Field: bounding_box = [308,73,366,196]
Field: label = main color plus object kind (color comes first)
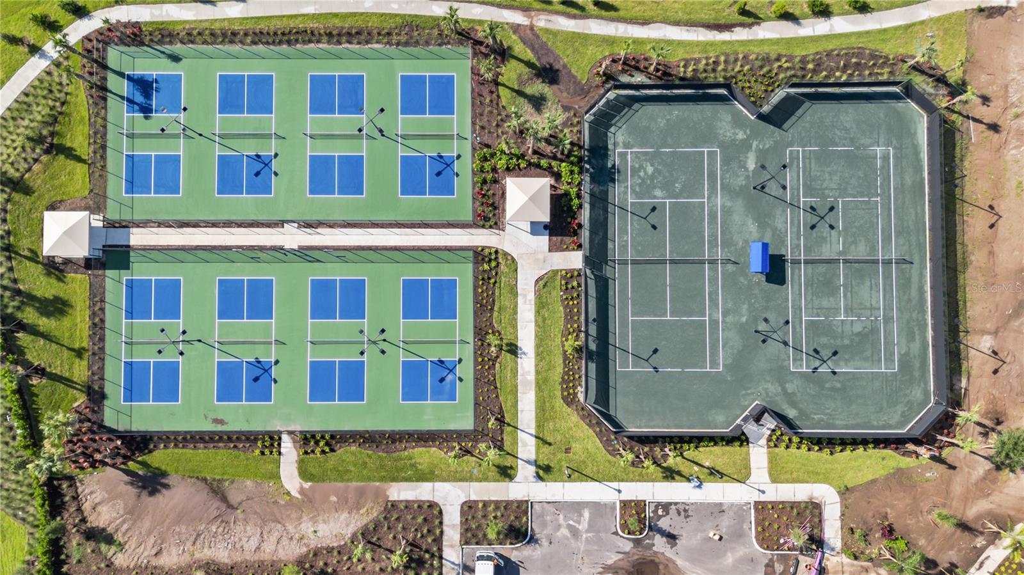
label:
blue sports court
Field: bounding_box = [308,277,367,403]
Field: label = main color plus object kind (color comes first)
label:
blue sports court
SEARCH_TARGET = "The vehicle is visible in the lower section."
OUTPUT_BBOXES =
[475,549,504,575]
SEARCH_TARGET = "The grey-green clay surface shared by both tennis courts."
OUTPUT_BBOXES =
[583,86,935,432]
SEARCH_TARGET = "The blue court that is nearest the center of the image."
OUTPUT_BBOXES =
[400,277,458,403]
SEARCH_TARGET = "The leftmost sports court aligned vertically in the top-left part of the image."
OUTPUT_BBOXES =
[123,73,183,196]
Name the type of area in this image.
sports ground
